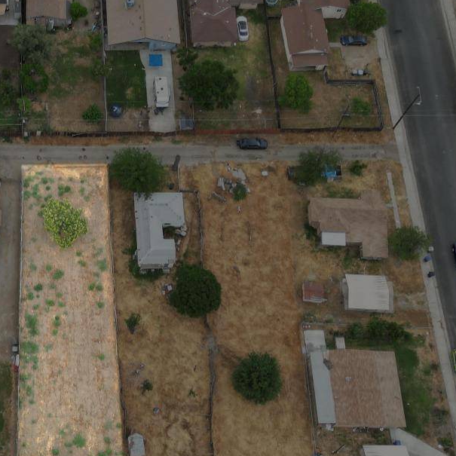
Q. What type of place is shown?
residential area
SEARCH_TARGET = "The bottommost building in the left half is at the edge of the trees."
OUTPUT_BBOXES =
[134,191,184,271]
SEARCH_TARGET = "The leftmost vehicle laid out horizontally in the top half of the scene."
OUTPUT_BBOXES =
[236,136,267,150]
